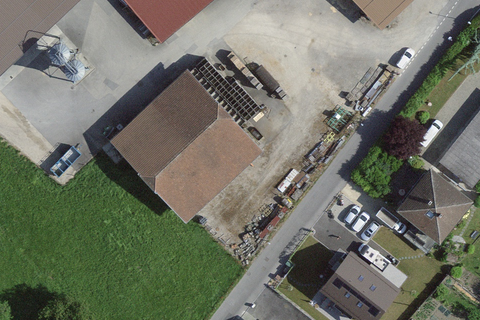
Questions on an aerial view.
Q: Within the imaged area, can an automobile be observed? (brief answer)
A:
Yes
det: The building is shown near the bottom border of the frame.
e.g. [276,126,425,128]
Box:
[316,252,402,320]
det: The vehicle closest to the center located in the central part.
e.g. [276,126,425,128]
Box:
[248,126,263,141]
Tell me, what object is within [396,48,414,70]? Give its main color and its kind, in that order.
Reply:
white car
